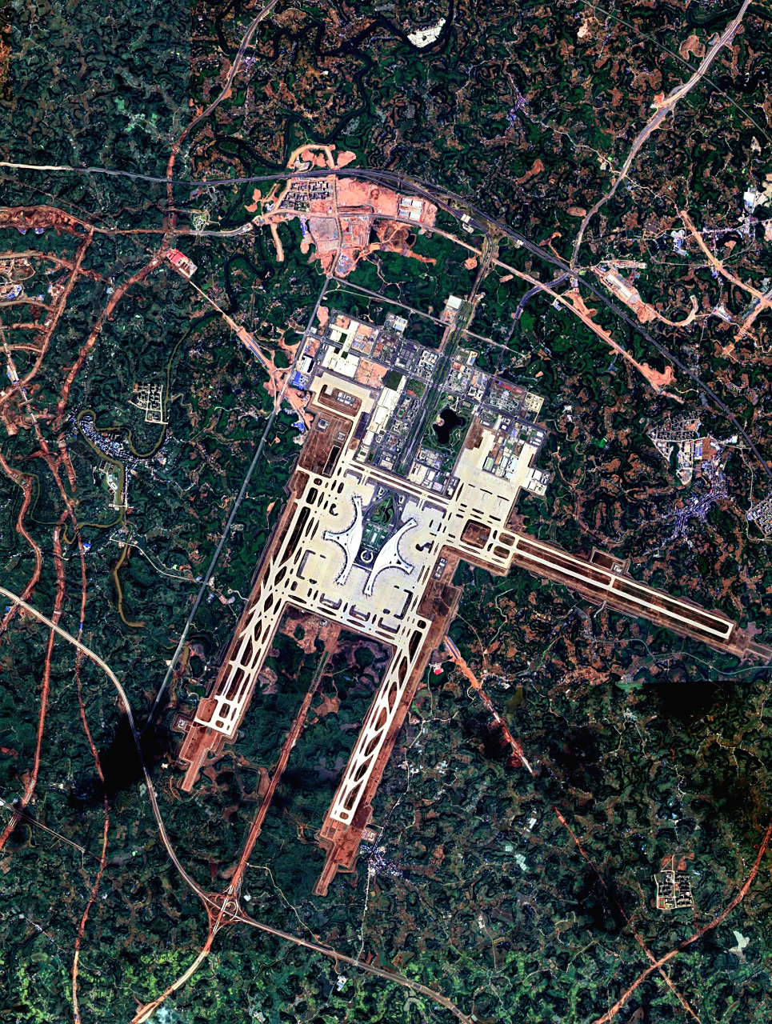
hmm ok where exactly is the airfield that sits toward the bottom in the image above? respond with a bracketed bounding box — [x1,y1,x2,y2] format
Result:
[171,373,772,895]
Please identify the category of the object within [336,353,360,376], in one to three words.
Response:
building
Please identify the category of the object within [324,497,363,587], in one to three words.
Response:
building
